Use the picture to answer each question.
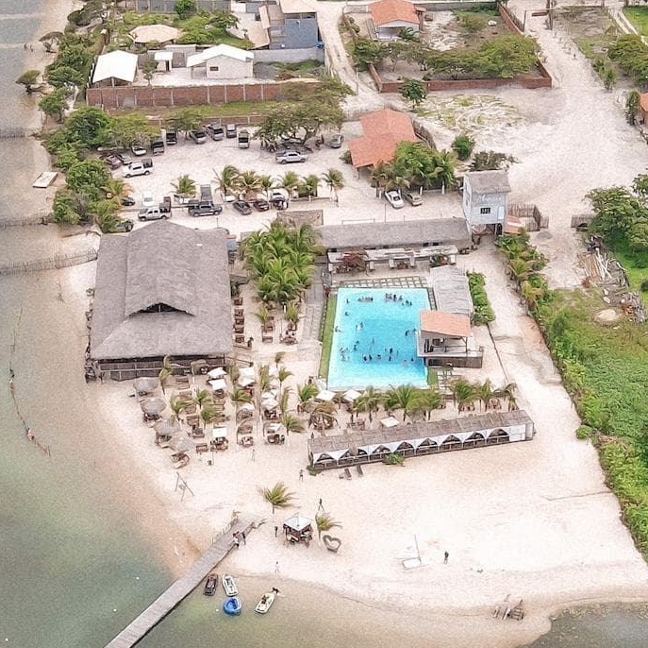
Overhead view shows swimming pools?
Yes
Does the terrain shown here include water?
Yes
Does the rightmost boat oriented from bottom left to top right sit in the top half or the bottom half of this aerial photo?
bottom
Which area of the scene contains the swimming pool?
center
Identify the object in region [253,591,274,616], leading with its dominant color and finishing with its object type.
white boat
